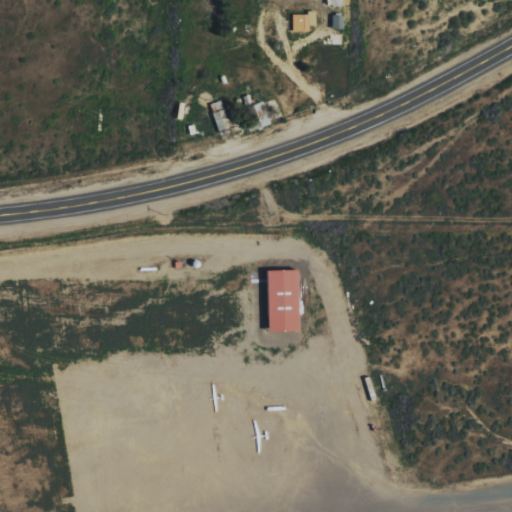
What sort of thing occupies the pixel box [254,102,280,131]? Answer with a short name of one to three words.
house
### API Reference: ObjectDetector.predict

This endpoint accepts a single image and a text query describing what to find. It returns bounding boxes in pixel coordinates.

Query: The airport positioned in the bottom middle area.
[0,234,512,512]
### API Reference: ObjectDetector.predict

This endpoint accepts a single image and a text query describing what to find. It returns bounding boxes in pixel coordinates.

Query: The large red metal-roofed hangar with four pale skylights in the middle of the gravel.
[268,270,302,332]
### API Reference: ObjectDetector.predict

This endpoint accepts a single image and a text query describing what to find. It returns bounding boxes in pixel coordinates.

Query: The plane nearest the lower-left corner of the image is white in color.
[211,384,225,414]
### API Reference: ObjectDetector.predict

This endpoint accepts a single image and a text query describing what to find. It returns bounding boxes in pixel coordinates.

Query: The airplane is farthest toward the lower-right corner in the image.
[252,420,270,454]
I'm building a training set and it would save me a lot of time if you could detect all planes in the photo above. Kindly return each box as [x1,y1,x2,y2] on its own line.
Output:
[211,384,225,414]
[252,420,270,454]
